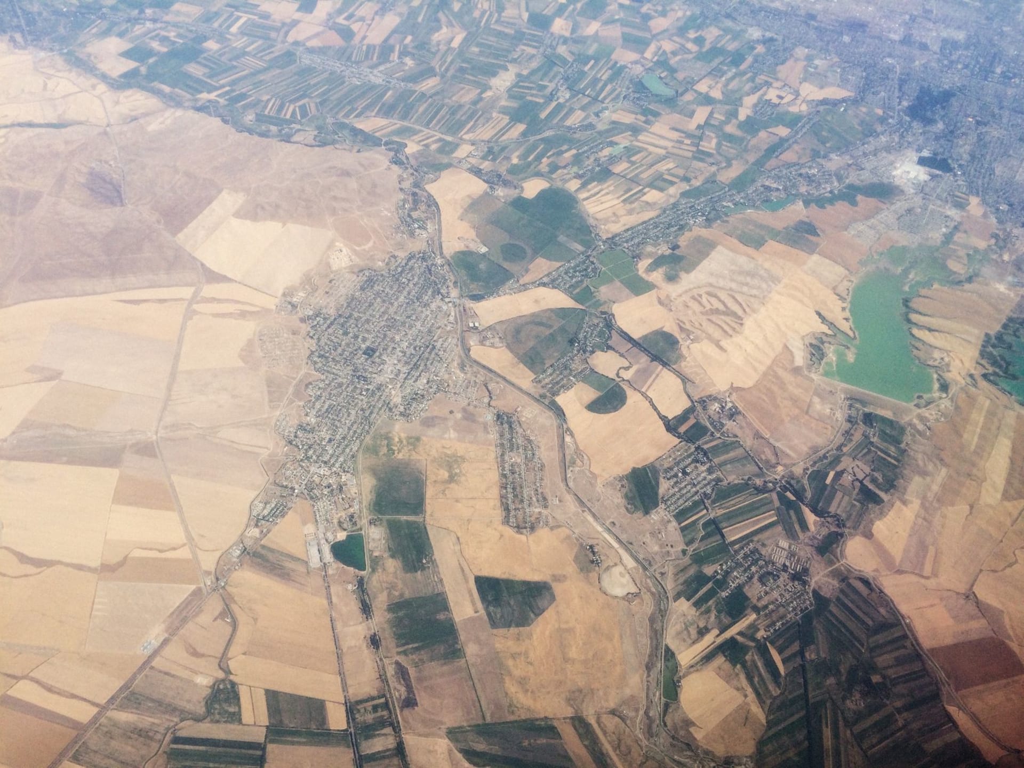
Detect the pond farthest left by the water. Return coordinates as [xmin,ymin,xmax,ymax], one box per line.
[822,268,936,403]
